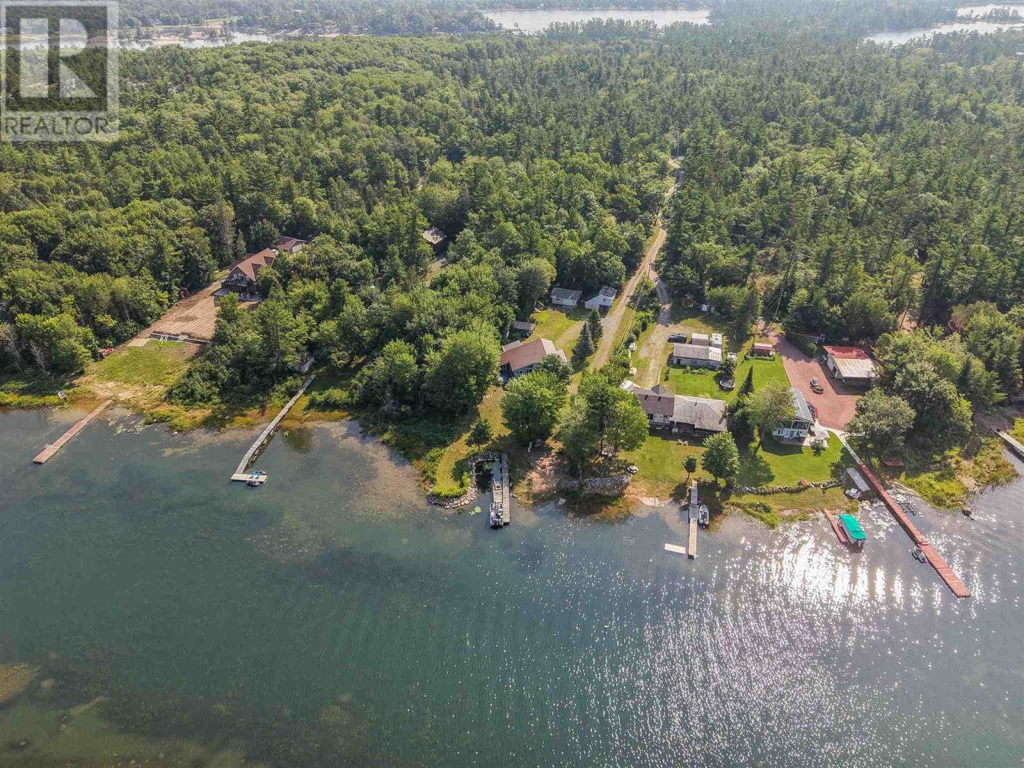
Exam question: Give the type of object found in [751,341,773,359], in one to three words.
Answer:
shed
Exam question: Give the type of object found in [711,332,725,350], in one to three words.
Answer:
vehicle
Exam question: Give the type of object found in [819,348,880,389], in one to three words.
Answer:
building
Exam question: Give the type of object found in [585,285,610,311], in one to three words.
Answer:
building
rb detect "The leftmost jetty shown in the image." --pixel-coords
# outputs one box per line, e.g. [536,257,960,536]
[33,401,113,462]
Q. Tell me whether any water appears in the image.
Yes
